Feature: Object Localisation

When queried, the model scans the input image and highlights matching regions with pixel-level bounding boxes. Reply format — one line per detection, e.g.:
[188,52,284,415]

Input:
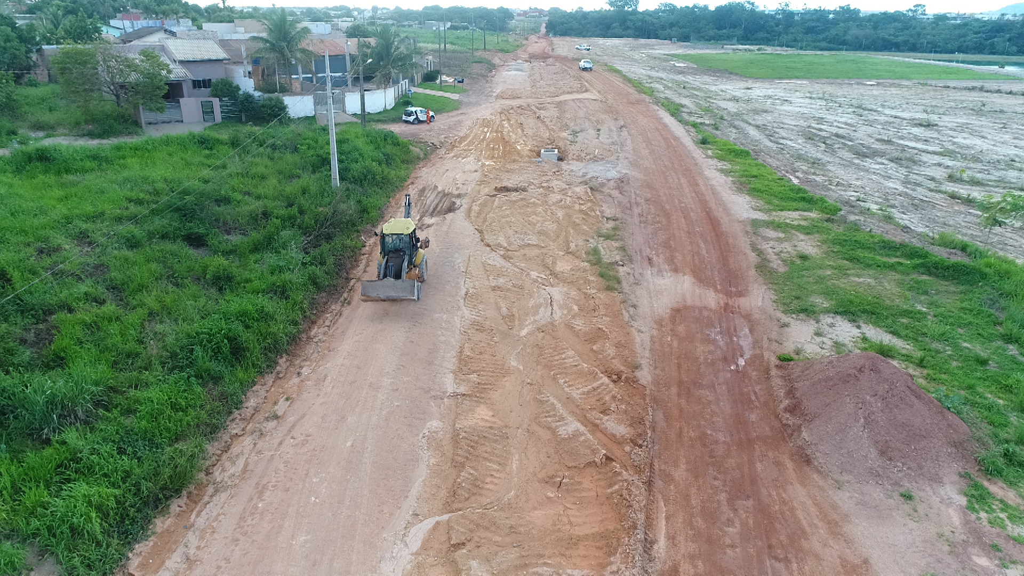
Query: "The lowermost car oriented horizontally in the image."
[400,107,437,124]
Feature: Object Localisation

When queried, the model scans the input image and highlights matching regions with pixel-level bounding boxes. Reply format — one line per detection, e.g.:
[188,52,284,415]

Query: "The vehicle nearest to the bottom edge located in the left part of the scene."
[361,193,433,303]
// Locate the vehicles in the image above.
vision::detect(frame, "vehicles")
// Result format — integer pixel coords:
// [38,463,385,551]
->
[361,193,433,303]
[400,107,437,124]
[580,61,592,71]
[574,44,592,50]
